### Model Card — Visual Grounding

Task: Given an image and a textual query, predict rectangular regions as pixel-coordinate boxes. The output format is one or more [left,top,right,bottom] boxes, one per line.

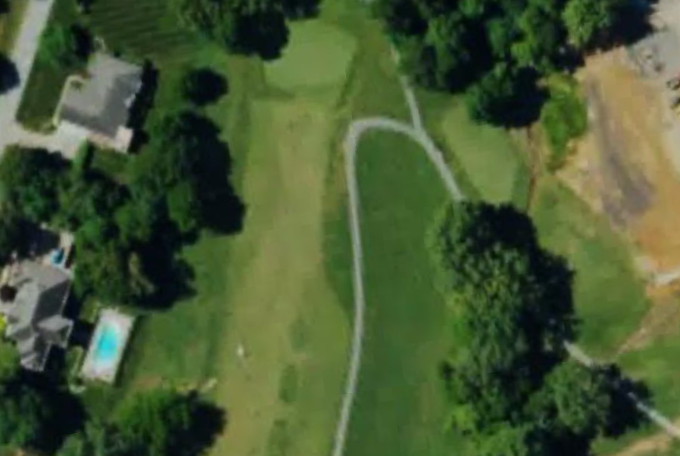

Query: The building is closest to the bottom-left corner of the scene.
[1,259,75,374]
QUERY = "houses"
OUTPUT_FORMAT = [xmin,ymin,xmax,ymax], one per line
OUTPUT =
[1,259,75,374]
[59,53,147,137]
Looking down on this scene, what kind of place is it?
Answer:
golf course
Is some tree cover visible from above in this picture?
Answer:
Yes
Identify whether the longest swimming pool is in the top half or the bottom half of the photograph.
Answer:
bottom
